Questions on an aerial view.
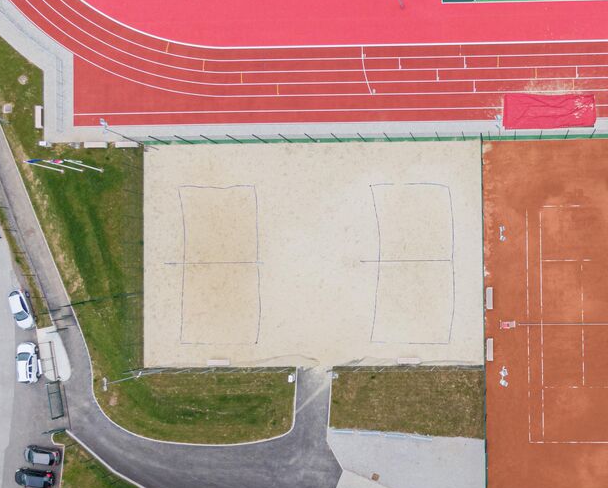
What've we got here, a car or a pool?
car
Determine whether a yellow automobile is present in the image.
No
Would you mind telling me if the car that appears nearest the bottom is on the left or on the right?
left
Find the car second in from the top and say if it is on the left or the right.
left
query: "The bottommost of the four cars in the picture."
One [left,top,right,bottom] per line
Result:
[15,468,56,488]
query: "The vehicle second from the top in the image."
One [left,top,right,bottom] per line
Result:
[13,342,40,383]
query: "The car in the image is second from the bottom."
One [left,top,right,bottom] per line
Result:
[24,446,61,466]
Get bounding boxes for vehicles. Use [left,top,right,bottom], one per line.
[6,290,36,331]
[15,468,56,488]
[13,342,40,383]
[24,446,61,466]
